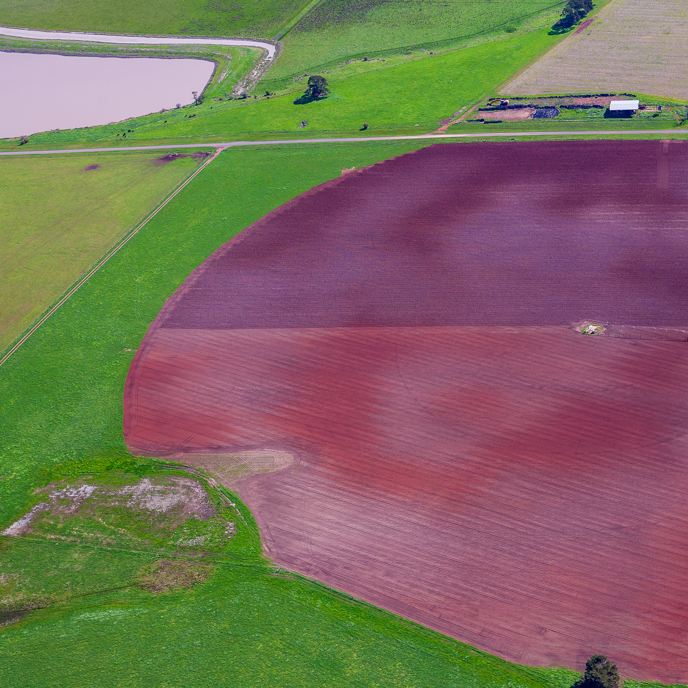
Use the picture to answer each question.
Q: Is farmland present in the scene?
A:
Yes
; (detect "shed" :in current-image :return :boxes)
[610,99,640,116]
